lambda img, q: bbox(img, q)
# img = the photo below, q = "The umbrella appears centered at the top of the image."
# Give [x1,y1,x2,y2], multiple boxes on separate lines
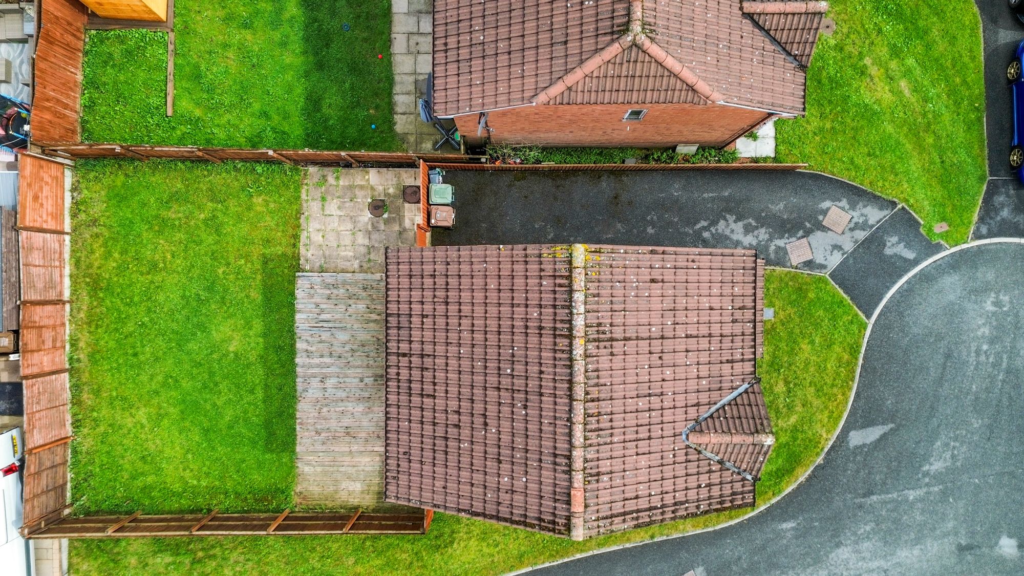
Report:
[420,102,460,149]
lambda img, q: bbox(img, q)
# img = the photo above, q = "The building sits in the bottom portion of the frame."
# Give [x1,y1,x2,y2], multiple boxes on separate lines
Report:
[382,240,777,538]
